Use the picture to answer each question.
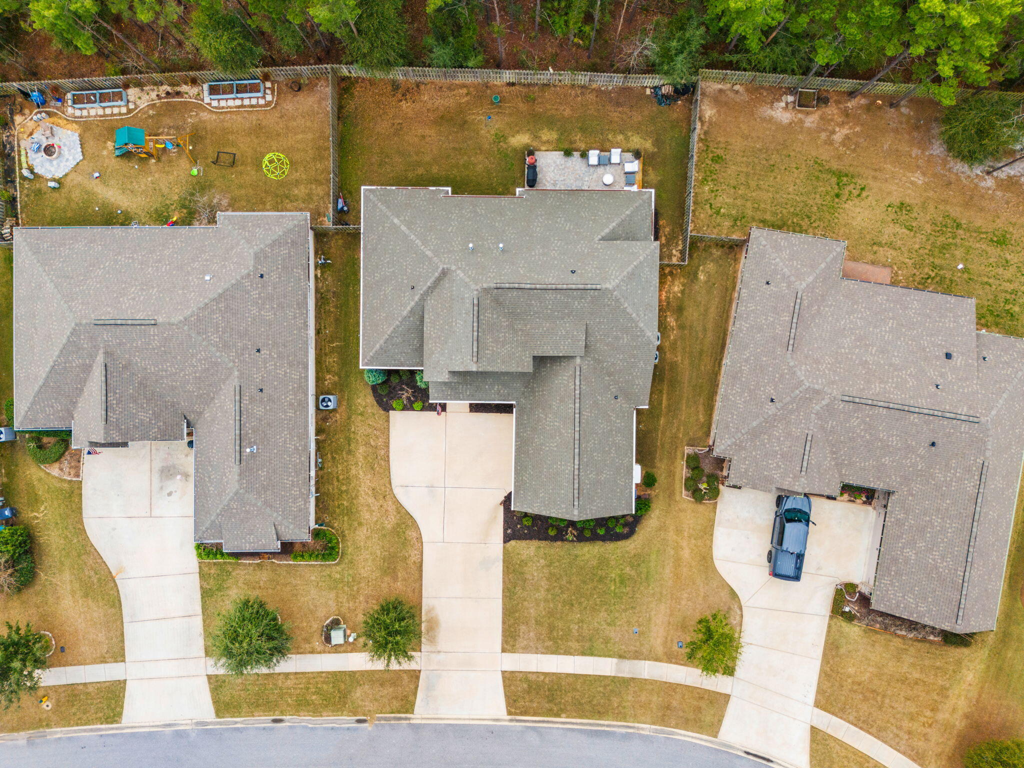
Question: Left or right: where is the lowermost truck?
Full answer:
The lowermost truck appears in the right half of the scene.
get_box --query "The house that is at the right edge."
[706,227,1024,634]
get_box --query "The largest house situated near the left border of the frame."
[12,212,317,553]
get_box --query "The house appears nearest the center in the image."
[360,186,660,521]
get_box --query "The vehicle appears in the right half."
[767,494,818,580]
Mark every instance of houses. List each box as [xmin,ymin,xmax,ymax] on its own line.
[12,212,317,553]
[706,227,1024,634]
[360,186,660,521]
